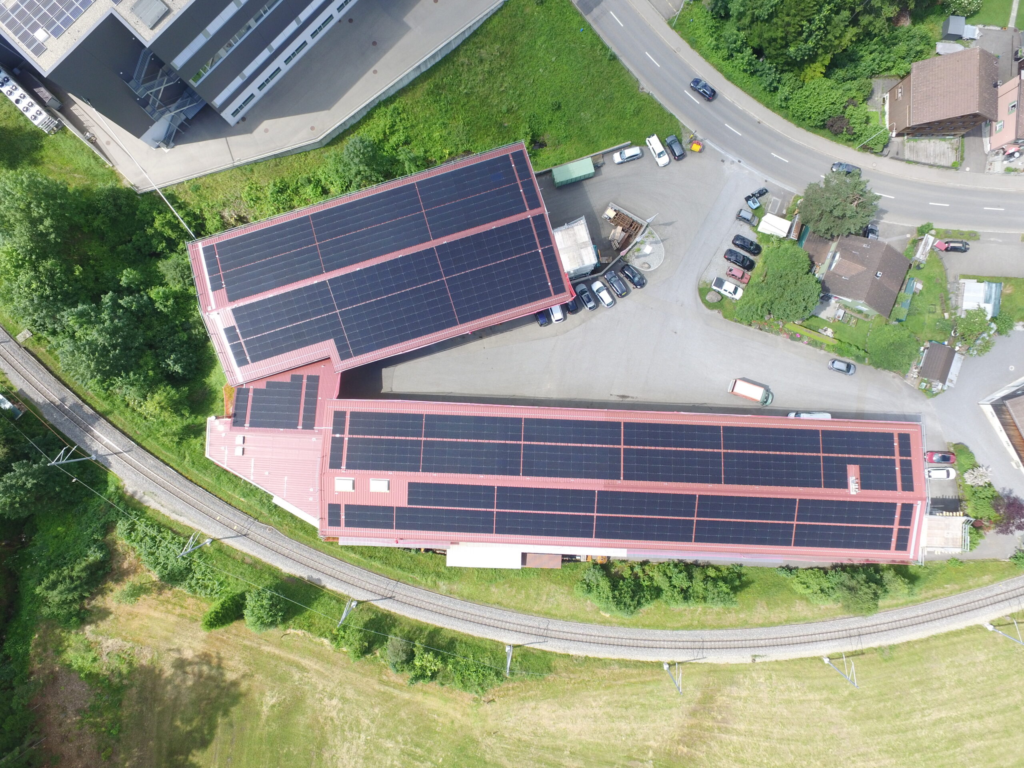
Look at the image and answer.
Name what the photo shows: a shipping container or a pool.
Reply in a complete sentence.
There is a shipping container in the scene.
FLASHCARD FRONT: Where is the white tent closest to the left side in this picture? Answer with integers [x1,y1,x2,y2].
[752,213,791,237]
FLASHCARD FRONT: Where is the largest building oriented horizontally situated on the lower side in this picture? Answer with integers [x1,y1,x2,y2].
[314,398,928,562]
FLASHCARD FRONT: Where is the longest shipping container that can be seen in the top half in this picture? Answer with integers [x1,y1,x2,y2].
[551,158,594,186]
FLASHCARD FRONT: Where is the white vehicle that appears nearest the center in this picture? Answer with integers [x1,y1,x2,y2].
[547,304,564,324]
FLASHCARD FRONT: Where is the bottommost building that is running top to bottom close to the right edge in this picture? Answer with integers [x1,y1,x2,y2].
[978,376,1024,487]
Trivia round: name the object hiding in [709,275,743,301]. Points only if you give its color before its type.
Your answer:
white truck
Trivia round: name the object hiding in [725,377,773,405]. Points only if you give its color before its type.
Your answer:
white truck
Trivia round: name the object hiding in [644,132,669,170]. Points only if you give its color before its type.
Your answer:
white car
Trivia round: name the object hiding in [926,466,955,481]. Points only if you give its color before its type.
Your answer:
white car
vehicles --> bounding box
[828,158,859,177]
[745,195,763,212]
[575,283,597,313]
[733,208,760,229]
[665,134,686,163]
[724,265,750,286]
[725,377,773,405]
[825,358,854,376]
[709,275,743,301]
[722,248,754,273]
[942,239,969,254]
[863,222,881,242]
[644,132,669,170]
[730,233,761,257]
[620,261,646,292]
[687,78,719,104]
[612,146,642,166]
[926,466,955,481]
[547,304,564,324]
[786,409,834,418]
[565,297,581,315]
[533,308,550,327]
[605,270,627,300]
[592,280,614,310]
[593,242,604,268]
